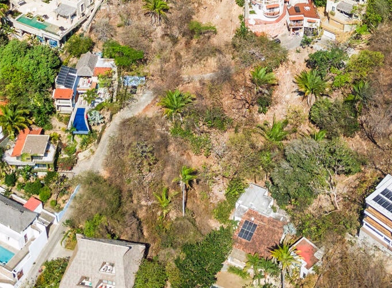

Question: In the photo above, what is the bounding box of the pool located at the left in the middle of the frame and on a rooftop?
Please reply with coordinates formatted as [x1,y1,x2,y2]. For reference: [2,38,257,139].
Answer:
[72,107,90,134]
